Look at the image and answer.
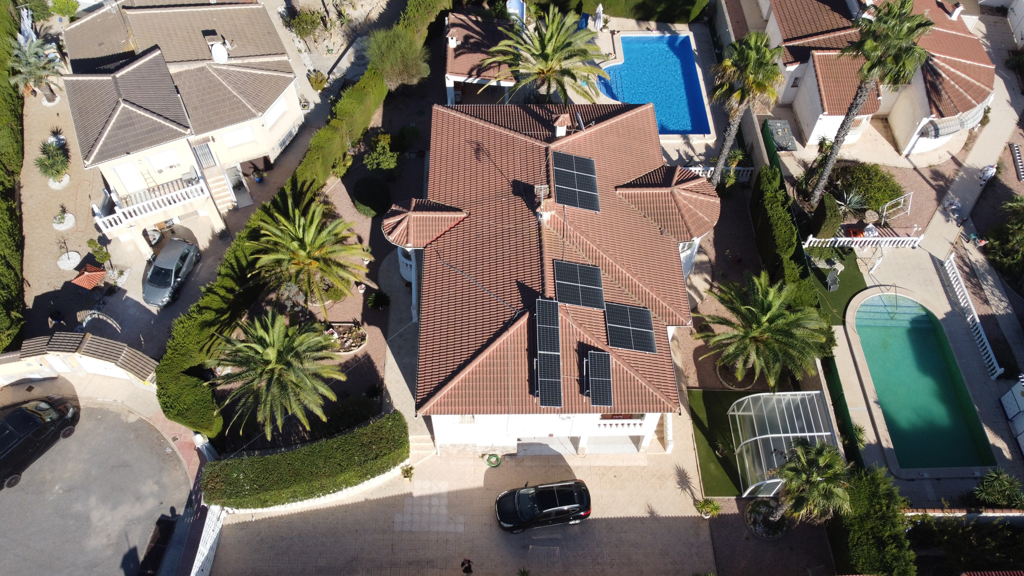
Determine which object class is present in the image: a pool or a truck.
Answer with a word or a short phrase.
pool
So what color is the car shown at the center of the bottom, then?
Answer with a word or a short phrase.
black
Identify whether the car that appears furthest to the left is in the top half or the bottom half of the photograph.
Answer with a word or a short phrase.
bottom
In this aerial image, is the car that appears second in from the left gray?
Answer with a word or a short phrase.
Yes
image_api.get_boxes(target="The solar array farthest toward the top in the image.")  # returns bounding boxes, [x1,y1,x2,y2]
[552,151,600,213]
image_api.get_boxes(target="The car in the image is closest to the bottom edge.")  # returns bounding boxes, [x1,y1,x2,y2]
[494,481,593,536]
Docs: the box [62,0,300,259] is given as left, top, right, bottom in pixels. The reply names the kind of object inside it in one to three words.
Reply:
house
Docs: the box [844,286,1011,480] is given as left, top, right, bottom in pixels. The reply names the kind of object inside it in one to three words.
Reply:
swimming pool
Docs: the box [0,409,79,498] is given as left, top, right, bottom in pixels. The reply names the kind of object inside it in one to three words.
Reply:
car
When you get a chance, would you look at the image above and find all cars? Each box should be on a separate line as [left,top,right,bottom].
[142,240,200,306]
[494,481,593,536]
[0,409,79,498]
